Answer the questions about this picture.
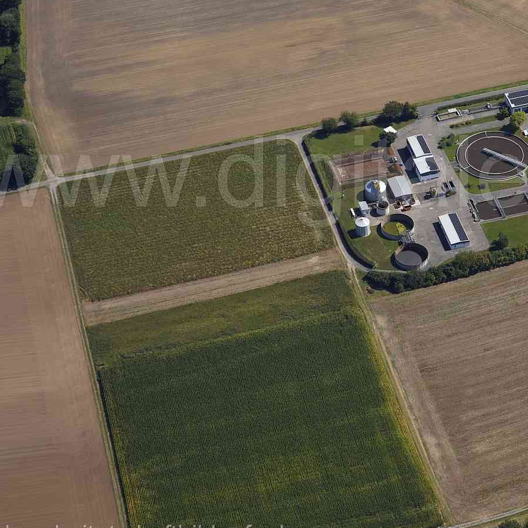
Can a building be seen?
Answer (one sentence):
Yes, looking at the shot, I can spot a building.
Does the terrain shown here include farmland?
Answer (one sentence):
Yes, farmland shows up in the scene.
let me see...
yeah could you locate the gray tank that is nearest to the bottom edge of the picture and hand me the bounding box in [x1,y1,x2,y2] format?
[394,242,428,271]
